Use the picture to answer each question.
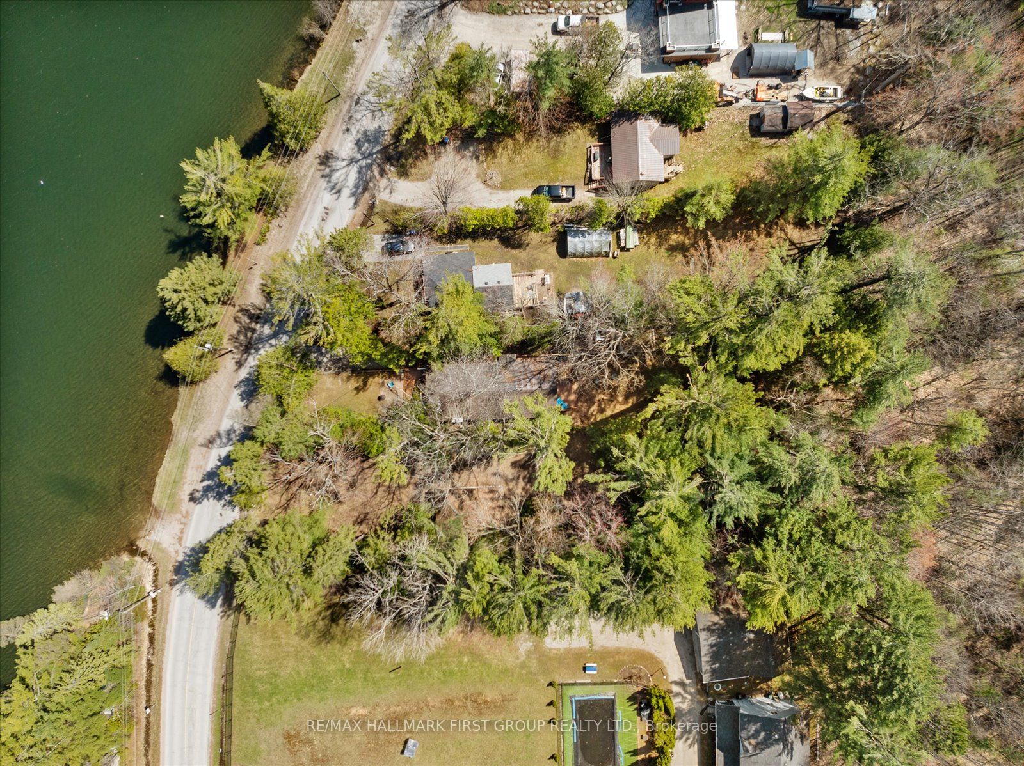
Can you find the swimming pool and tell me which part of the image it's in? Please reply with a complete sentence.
You can find the swimming pool in the bottom area of the picture.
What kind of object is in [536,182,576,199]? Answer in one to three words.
vehicle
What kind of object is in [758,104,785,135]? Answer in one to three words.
shed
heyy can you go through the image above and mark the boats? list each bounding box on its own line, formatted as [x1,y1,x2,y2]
[806,83,849,100]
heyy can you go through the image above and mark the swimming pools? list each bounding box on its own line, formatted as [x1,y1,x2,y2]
[562,684,654,766]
